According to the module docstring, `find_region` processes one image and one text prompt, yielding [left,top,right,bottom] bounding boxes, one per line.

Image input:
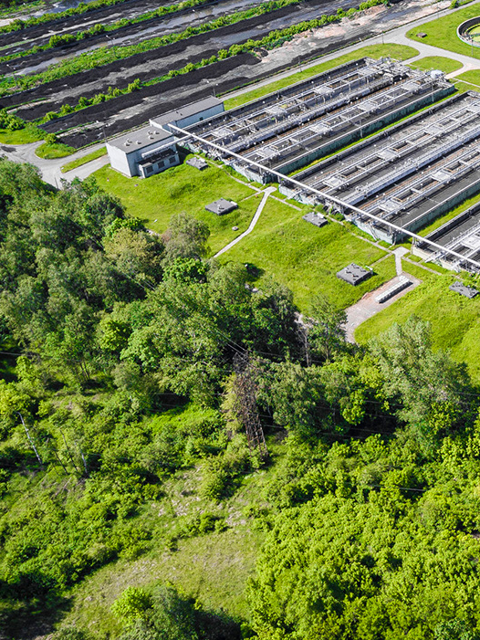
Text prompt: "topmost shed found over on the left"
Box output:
[148,97,224,138]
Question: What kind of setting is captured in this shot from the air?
industrial area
